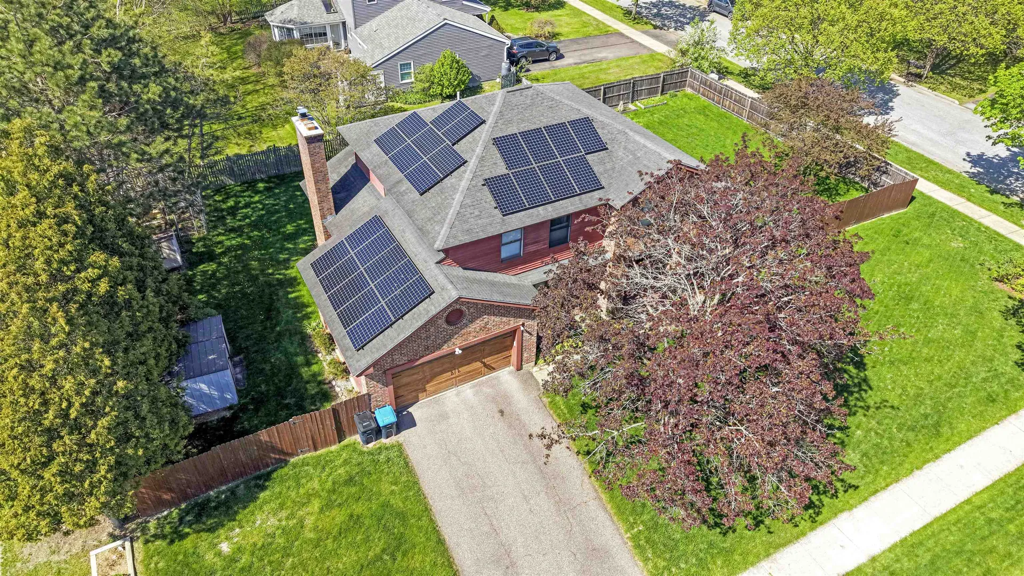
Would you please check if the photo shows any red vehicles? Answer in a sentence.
No, no red vehicle is visible in the view.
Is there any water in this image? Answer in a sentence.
No, there is no water in the image.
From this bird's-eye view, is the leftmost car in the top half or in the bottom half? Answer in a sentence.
The leftmost car is in the top half of the image.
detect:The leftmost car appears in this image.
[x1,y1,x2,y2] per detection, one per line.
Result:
[504,35,558,65]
